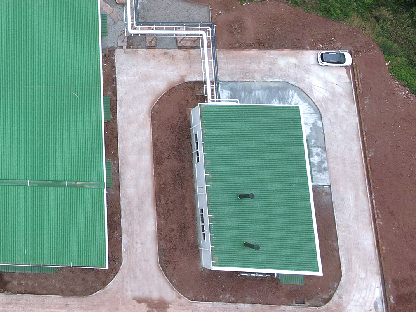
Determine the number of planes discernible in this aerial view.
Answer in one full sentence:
I count no planes.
